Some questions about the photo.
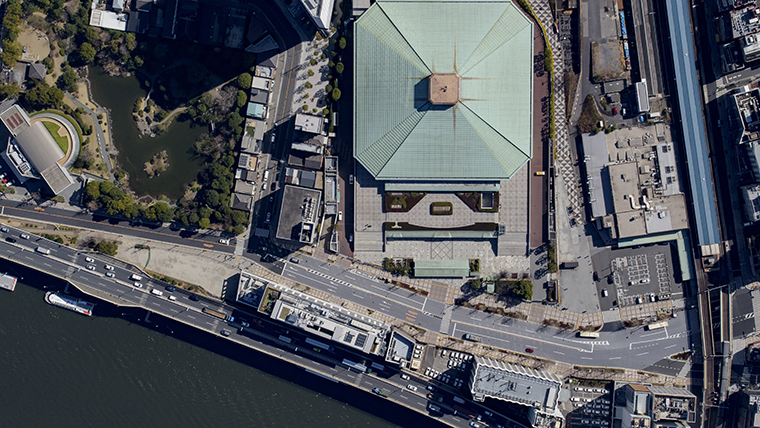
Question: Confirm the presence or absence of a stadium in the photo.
Yes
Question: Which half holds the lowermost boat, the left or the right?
left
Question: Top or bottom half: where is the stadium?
top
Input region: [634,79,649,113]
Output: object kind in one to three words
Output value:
shed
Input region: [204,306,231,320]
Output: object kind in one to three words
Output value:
vehicle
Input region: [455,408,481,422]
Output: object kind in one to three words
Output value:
vehicle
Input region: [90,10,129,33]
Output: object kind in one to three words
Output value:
building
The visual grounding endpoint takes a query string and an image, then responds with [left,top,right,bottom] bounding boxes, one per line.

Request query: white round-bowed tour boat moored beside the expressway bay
[43,292,93,315]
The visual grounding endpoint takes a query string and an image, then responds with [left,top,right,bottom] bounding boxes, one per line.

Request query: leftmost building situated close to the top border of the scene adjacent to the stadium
[301,0,338,38]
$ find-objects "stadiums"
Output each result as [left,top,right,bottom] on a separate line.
[355,1,532,180]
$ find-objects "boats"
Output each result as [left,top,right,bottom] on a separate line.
[0,274,18,293]
[43,292,93,315]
